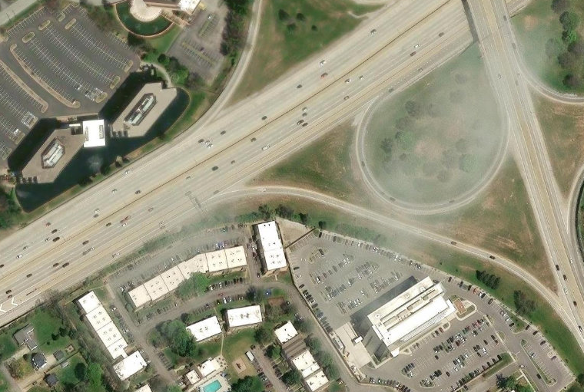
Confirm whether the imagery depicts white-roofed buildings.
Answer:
Yes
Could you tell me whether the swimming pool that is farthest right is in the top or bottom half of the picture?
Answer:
bottom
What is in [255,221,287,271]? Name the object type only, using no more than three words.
building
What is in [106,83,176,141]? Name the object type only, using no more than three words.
building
